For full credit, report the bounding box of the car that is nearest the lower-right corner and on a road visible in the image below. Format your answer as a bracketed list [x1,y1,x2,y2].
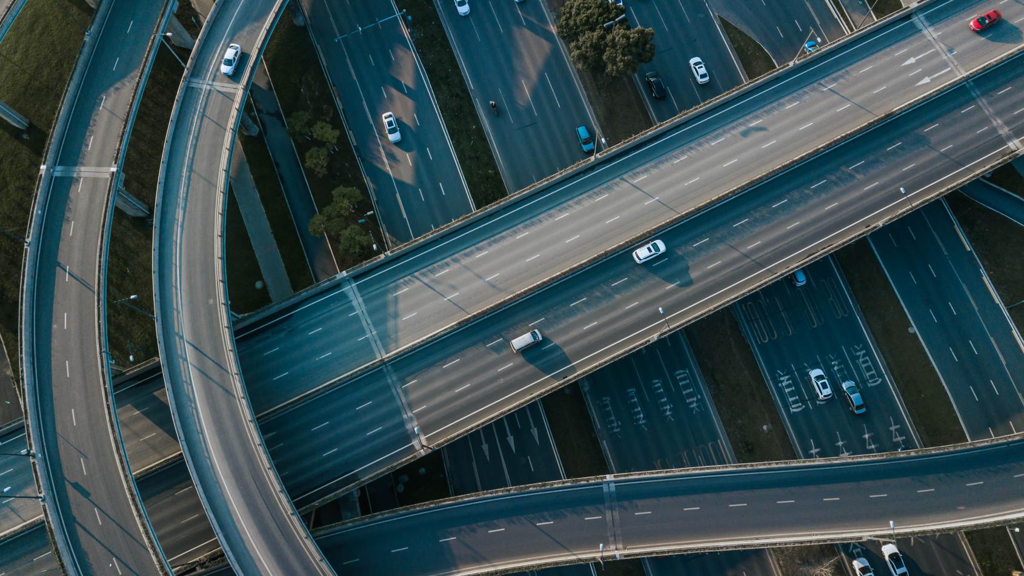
[880,540,908,576]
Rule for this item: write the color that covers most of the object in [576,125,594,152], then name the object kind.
blue car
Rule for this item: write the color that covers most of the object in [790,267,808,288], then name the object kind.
blue car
